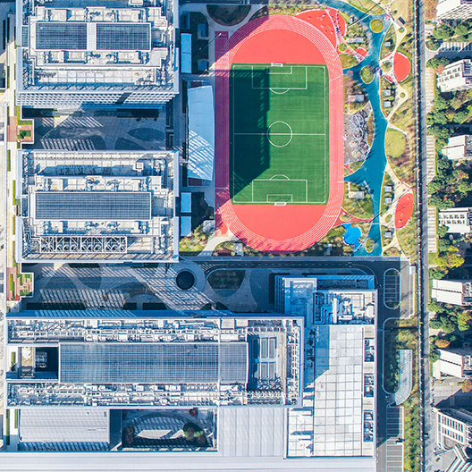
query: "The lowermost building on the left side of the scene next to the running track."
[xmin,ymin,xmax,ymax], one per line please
[6,309,303,408]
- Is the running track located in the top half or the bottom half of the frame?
top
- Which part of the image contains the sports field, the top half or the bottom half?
top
